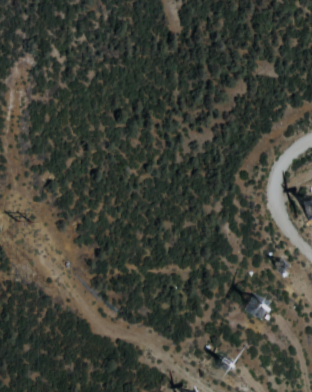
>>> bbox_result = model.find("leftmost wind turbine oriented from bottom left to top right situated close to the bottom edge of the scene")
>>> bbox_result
[218,346,246,376]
